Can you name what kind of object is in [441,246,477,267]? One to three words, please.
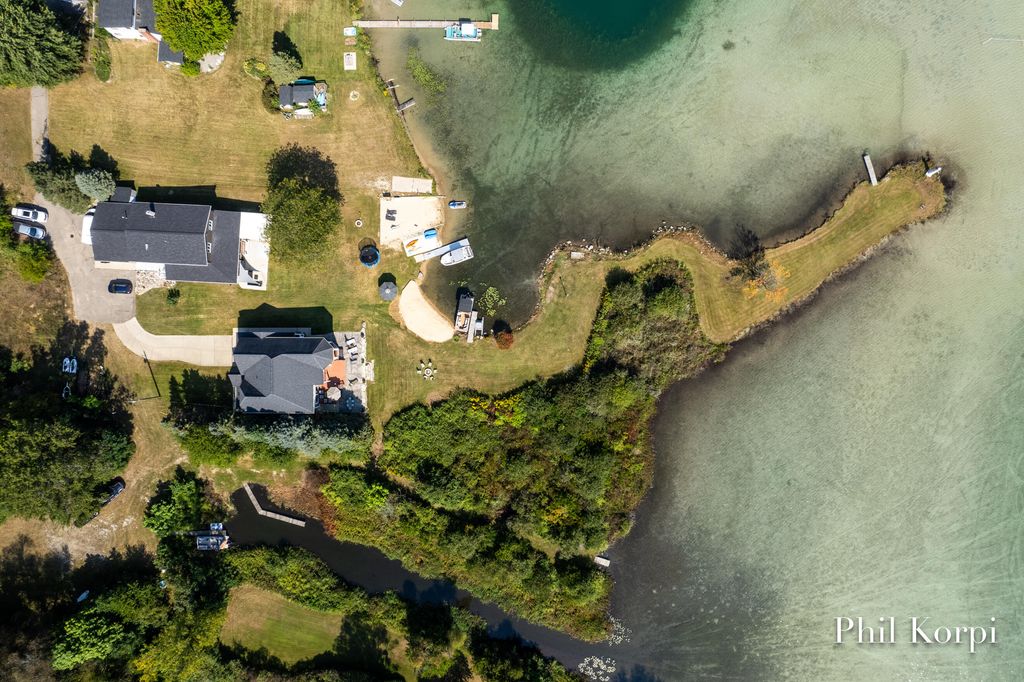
boat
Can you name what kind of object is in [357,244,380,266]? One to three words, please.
trampoline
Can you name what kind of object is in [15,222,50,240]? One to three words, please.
car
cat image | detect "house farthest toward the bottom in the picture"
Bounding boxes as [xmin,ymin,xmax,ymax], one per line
[228,328,341,414]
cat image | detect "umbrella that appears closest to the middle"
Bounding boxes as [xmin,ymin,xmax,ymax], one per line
[380,282,397,300]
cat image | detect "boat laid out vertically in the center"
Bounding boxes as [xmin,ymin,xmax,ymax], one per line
[454,294,475,336]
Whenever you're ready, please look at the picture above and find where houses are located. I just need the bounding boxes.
[91,187,244,283]
[228,328,341,414]
[97,0,188,66]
